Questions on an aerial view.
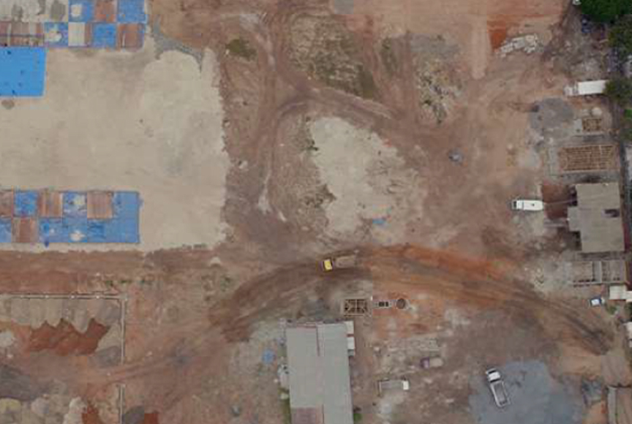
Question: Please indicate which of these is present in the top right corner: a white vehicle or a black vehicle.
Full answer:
There is a white vehicle in the top right corner.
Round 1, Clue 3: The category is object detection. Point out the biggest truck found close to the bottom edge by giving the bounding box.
[486,368,514,411]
